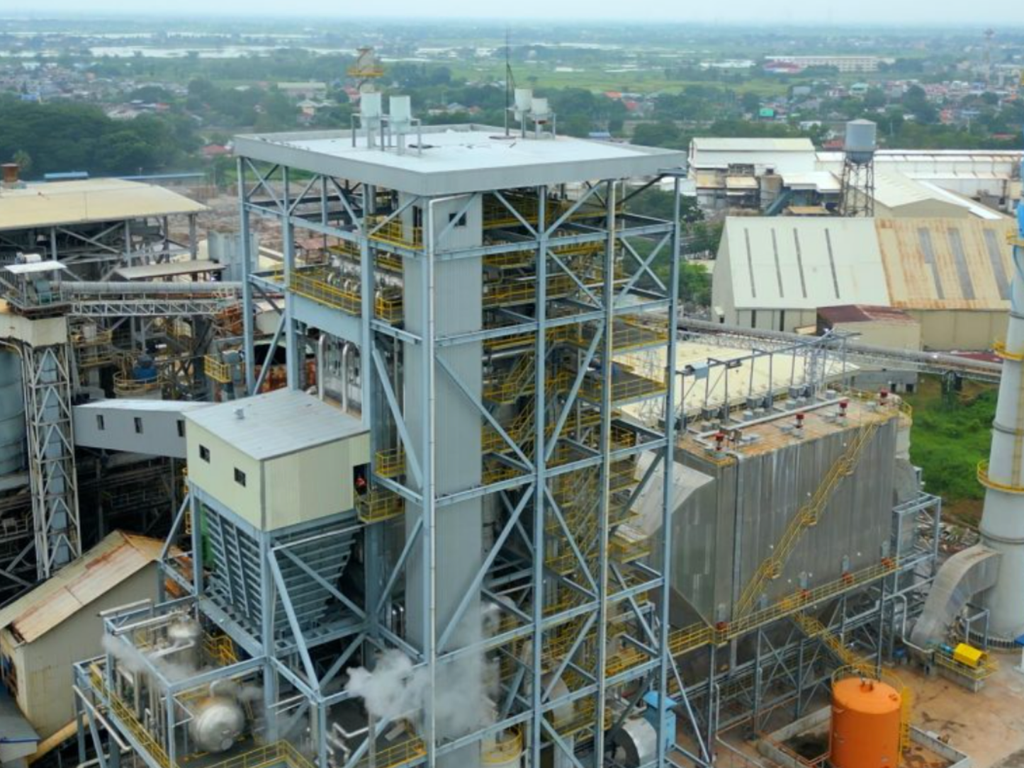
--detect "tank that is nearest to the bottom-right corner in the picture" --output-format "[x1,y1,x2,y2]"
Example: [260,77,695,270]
[831,662,920,768]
